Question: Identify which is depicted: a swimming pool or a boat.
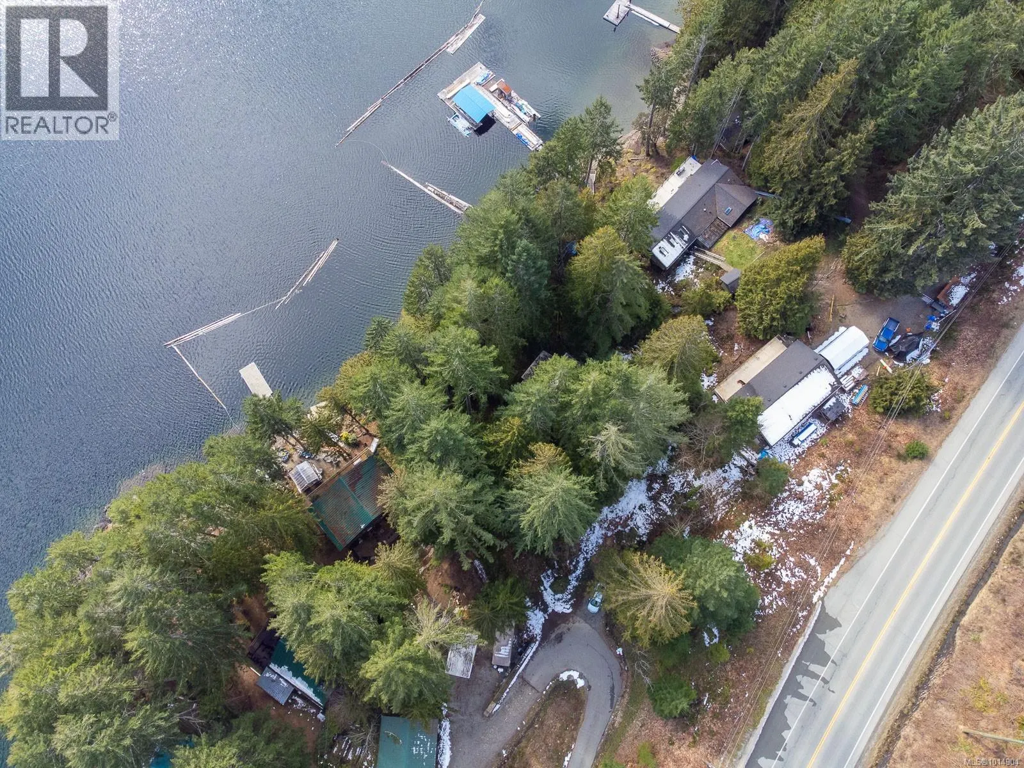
boat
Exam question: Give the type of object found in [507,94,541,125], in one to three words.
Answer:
boat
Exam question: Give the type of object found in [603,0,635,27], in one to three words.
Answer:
pier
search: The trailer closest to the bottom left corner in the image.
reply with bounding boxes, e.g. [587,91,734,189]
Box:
[492,627,513,677]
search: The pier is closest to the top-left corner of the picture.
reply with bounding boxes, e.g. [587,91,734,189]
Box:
[239,360,273,398]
